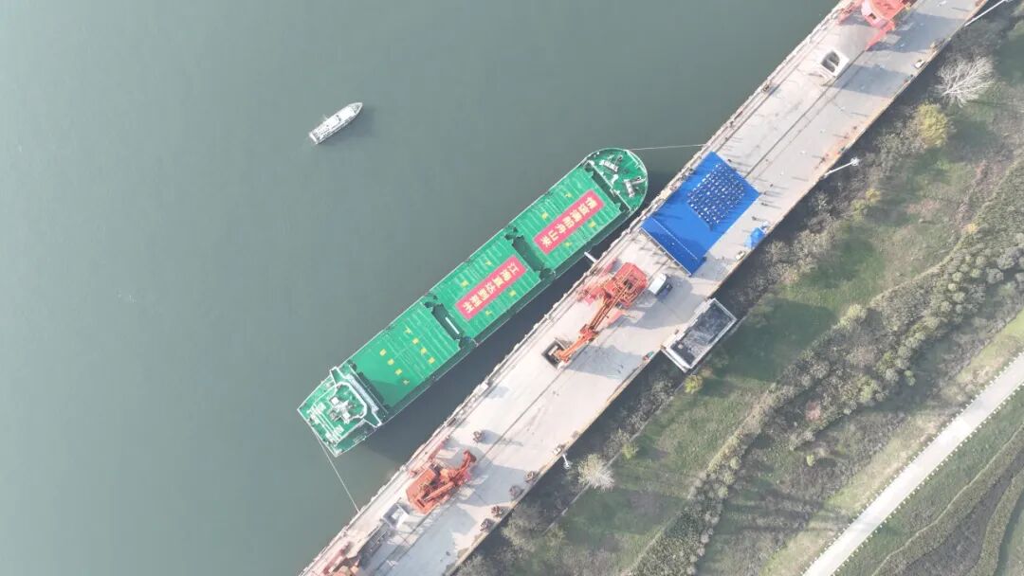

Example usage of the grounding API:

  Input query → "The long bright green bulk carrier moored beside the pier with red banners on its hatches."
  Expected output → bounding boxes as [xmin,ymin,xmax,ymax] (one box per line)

[294,146,650,452]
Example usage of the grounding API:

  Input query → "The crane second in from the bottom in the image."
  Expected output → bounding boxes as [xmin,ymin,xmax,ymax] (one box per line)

[411,435,480,517]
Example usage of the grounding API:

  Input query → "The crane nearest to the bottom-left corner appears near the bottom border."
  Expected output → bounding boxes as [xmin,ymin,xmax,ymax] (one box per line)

[315,544,356,576]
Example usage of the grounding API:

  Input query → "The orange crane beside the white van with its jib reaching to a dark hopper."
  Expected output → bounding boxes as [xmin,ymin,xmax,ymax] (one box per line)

[556,257,650,364]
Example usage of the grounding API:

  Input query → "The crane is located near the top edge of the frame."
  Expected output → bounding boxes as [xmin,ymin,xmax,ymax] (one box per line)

[837,0,914,48]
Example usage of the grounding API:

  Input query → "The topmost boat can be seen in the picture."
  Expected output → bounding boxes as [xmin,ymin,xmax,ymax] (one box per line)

[309,105,361,145]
